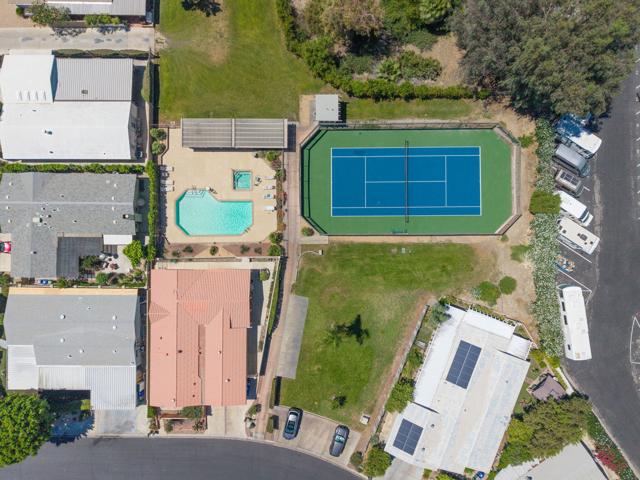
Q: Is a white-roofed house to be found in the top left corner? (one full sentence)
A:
Yes, I can see a white-roofed house in the top left corner.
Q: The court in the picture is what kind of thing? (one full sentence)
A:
From above, the court can be identified as a tennis court.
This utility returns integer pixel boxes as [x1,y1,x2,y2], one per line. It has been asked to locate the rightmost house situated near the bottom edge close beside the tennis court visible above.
[383,304,532,473]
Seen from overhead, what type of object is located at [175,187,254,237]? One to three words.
swimming pool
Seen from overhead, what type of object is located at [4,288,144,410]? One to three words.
house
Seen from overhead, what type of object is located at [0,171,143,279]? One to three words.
house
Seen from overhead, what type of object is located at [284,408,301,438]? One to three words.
car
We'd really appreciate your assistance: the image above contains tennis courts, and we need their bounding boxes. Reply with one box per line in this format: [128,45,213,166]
[302,128,512,236]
